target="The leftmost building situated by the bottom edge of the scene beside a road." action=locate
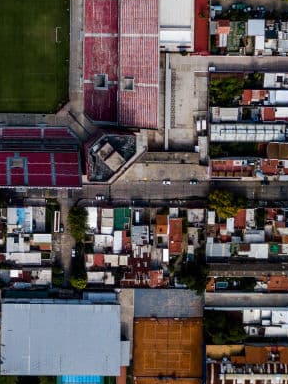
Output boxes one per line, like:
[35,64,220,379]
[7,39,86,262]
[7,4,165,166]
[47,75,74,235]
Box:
[0,294,120,375]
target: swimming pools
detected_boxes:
[216,281,228,288]
[63,376,100,384]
